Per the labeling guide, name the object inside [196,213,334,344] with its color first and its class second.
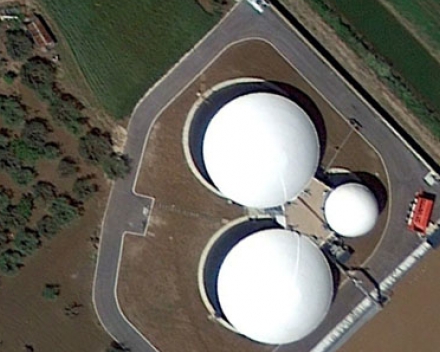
white storage tank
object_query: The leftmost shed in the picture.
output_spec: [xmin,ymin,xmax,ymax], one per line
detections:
[22,18,54,49]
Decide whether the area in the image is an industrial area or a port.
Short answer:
industrial area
